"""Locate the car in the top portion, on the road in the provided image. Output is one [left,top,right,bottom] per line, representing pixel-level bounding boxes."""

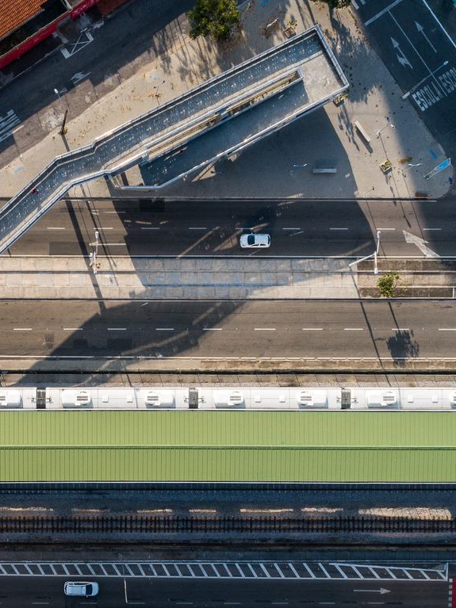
[238,231,271,249]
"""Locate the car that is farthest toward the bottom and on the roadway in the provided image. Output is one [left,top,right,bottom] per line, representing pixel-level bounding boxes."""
[65,580,99,599]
